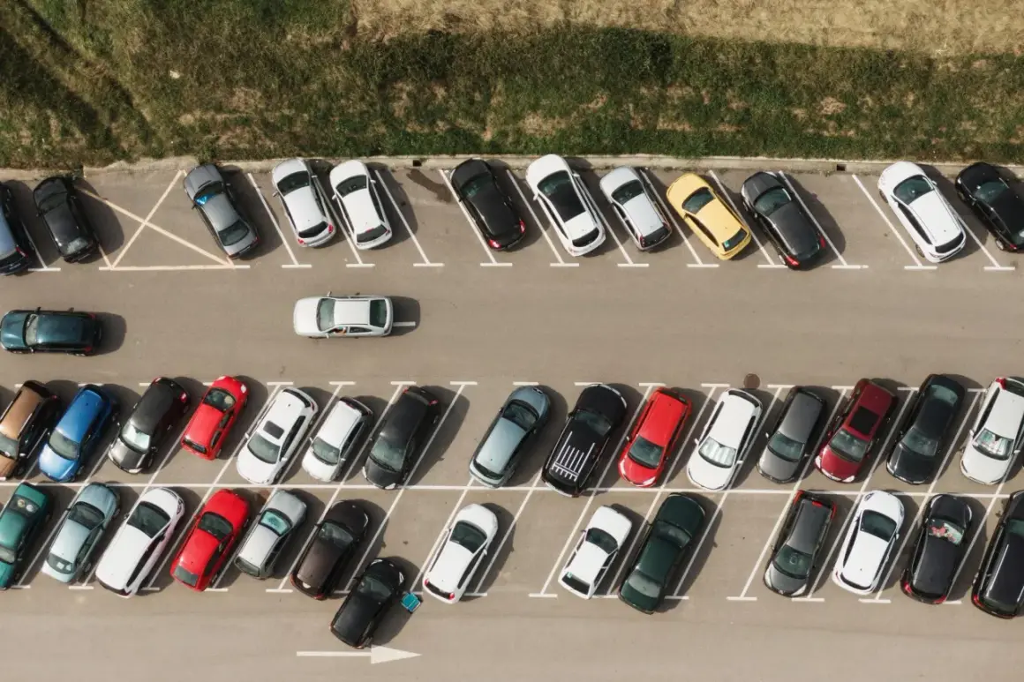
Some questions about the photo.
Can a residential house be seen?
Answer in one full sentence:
No, the frame has no residential house in it.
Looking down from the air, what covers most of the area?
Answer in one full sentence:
The scene is dominated by paved ground.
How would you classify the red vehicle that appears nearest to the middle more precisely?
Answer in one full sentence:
The red vehicle that appears nearest to the middle in the image is a car.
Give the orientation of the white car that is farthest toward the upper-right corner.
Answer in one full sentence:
The white car that is farthest toward the upper-right corner is oriented at an angle.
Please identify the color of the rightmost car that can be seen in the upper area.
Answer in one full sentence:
The rightmost car that can be seen in the upper area is black.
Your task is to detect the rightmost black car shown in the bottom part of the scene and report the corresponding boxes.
[974,495,1024,616]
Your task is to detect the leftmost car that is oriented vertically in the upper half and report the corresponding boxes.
[0,199,30,272]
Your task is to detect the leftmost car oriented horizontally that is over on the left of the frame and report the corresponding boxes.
[0,307,102,358]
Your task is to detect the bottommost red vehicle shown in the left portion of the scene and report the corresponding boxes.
[169,490,243,589]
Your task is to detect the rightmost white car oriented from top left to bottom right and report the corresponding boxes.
[880,162,966,262]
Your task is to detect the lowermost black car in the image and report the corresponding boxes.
[330,559,401,648]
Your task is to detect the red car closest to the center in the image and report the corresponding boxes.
[622,389,692,486]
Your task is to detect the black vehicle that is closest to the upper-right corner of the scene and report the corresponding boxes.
[957,162,1024,256]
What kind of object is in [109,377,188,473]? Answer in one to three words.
car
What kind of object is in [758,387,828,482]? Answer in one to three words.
car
